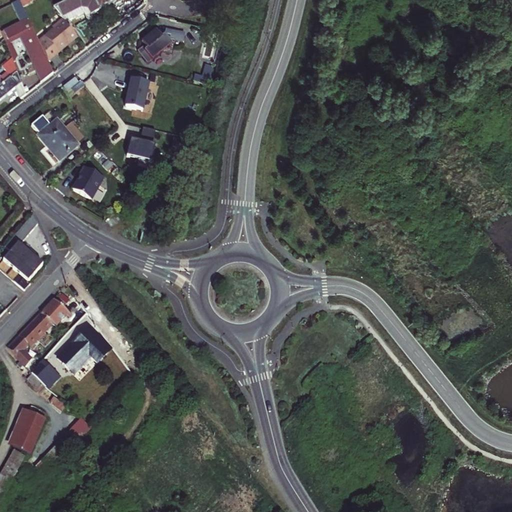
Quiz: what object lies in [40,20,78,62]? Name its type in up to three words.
house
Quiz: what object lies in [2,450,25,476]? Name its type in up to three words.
shed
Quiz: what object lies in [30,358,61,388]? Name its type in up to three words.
building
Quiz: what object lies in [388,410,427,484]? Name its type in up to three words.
pond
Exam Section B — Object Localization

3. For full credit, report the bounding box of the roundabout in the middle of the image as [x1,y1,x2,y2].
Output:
[142,200,328,386]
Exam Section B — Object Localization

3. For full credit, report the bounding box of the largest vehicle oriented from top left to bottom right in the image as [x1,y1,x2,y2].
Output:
[10,169,25,186]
